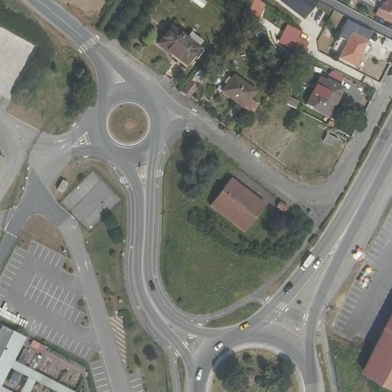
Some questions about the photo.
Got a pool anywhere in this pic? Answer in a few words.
No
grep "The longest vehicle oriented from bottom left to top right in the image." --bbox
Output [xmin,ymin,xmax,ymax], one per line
[300,252,316,271]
